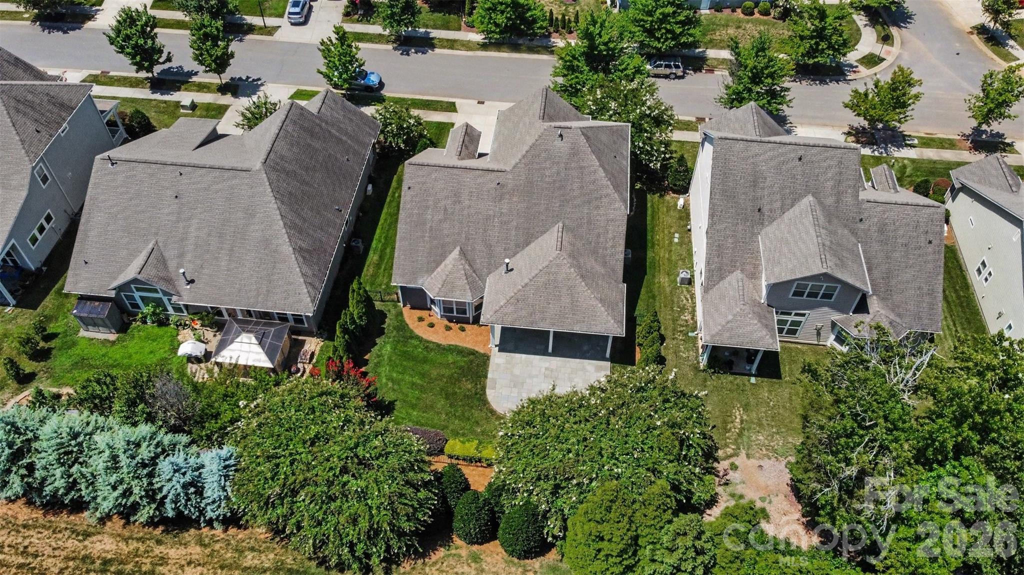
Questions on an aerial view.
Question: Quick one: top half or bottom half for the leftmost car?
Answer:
top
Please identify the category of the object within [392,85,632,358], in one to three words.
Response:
house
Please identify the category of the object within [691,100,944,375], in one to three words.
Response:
house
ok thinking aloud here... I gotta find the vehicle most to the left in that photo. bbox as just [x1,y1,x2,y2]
[286,0,313,21]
